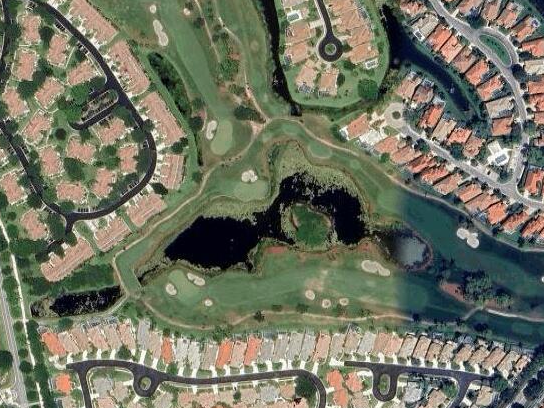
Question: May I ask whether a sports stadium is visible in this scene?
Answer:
No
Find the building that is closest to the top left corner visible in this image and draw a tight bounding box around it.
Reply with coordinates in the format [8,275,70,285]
[21,15,40,41]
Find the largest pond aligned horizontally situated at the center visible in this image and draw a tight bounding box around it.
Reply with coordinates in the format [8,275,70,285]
[167,174,367,269]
